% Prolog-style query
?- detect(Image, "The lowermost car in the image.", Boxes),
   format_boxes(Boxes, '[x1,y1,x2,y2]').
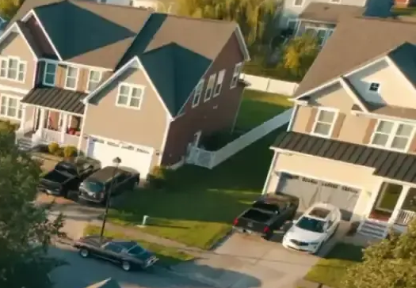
[76,235,158,272]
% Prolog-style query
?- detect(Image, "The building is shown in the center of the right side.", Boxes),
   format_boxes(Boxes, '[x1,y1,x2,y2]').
[261,16,416,235]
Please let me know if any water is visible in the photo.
No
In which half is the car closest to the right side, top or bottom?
bottom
